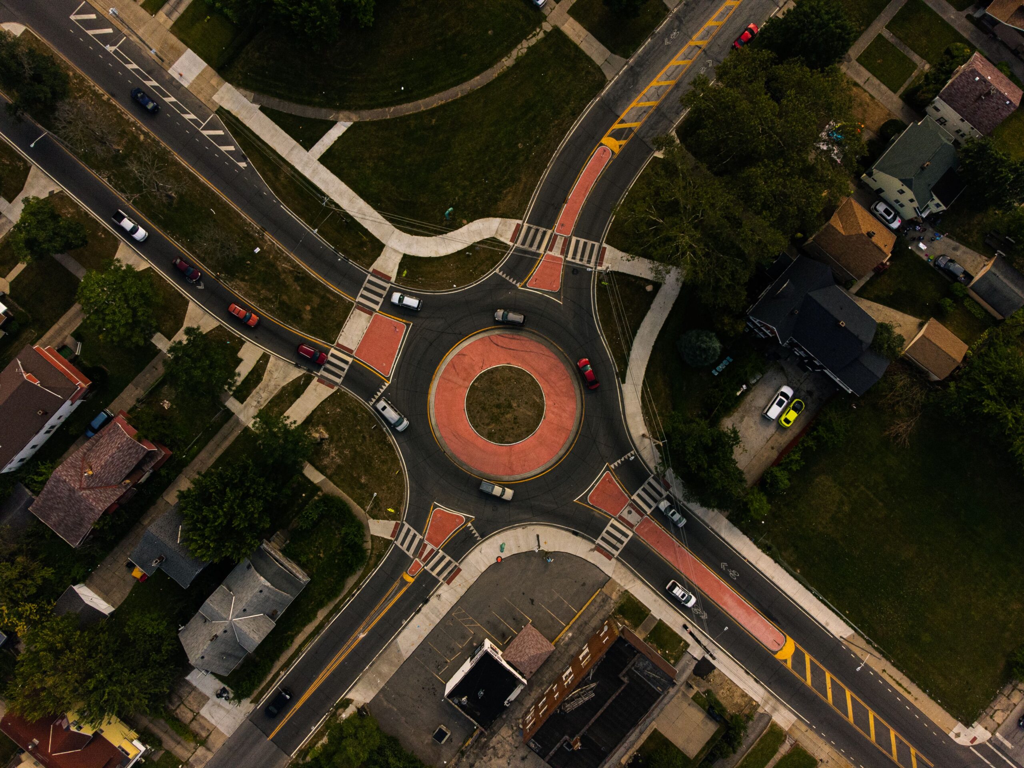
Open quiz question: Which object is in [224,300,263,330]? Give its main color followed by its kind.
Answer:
red car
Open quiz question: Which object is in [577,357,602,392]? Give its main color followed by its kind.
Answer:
red car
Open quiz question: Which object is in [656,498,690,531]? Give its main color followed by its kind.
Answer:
gray car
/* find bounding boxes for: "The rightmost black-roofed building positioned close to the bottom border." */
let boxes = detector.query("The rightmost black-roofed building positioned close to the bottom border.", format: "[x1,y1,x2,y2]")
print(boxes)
[524,618,679,768]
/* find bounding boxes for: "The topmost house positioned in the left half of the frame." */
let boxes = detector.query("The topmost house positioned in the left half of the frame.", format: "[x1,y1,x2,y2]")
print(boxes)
[0,299,28,340]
